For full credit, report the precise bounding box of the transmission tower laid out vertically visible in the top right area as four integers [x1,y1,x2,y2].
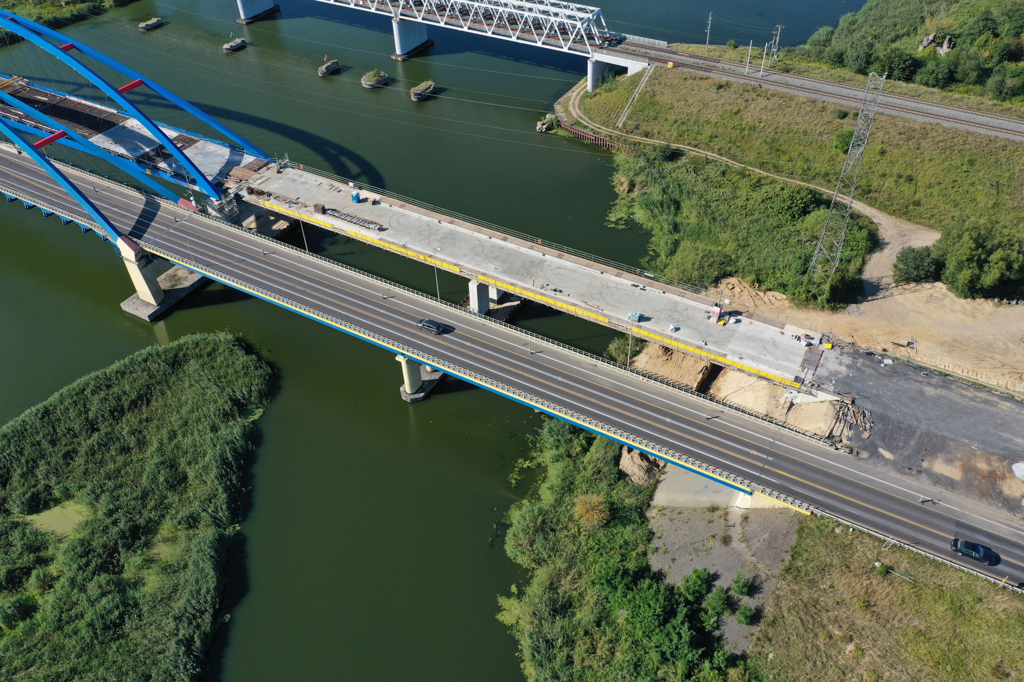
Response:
[809,70,888,295]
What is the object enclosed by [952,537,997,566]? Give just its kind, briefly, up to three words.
car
